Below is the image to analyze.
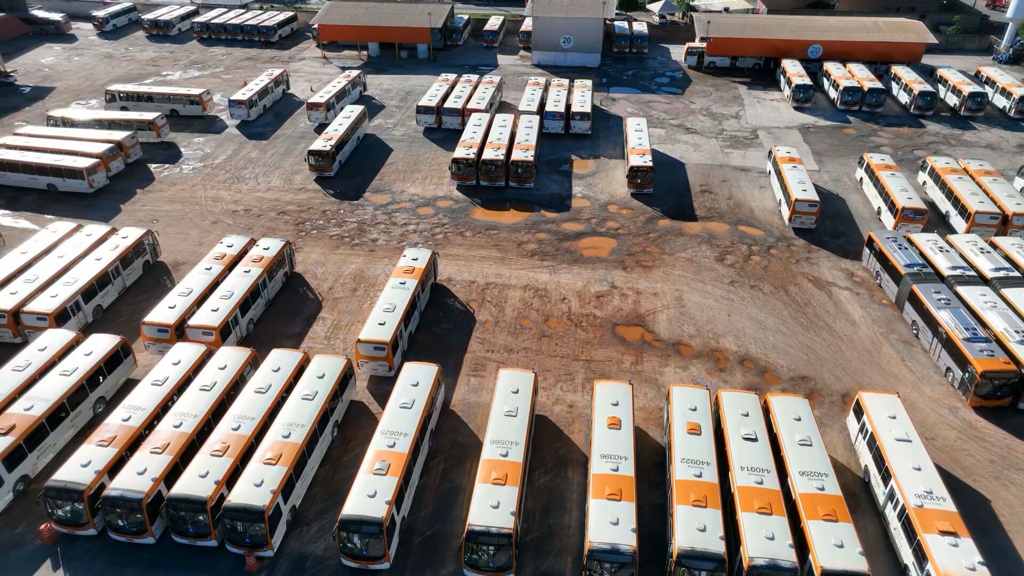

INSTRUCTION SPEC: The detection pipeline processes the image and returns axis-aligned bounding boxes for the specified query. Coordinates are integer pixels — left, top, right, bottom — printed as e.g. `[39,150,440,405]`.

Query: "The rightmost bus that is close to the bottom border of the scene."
[848,394,987,576]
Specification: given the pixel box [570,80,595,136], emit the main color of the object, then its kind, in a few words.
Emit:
white bus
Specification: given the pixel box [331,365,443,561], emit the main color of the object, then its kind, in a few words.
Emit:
white bus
